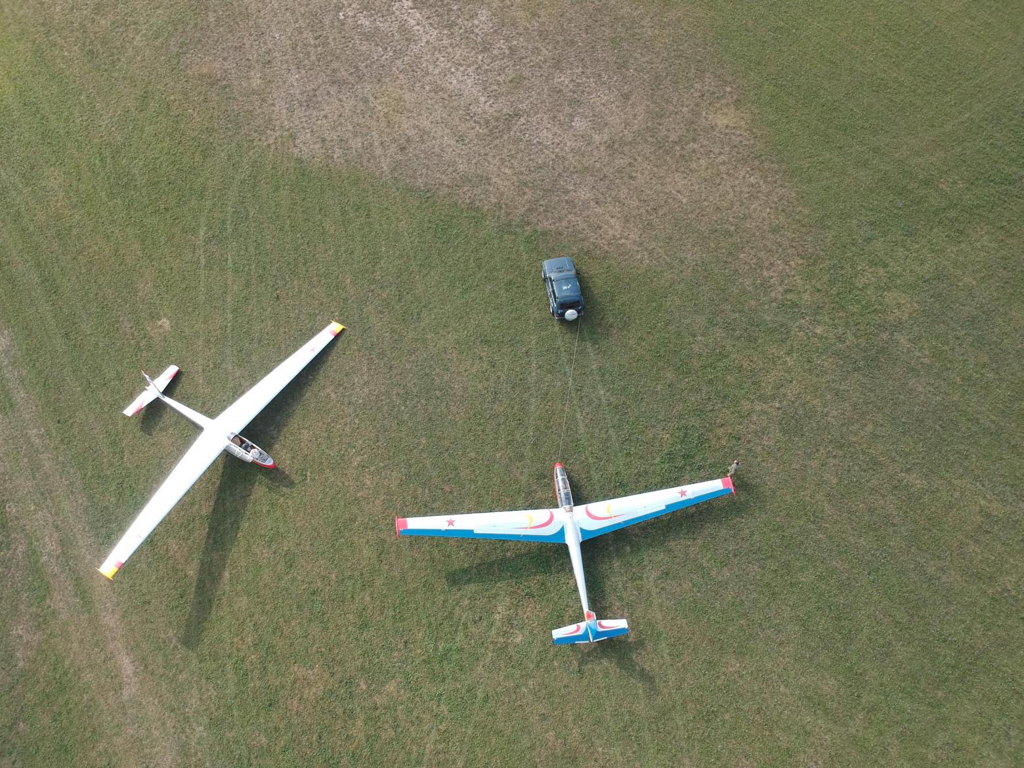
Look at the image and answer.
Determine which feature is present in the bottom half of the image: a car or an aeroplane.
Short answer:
aeroplane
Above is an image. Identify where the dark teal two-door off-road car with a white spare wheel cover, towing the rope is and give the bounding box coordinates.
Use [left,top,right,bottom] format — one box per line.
[542,258,584,321]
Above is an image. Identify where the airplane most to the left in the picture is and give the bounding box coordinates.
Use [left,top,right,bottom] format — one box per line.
[96,320,344,580]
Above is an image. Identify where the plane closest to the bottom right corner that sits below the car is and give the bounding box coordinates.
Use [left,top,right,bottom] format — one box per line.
[396,462,734,644]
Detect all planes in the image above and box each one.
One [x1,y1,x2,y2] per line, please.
[396,462,734,644]
[96,320,344,580]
